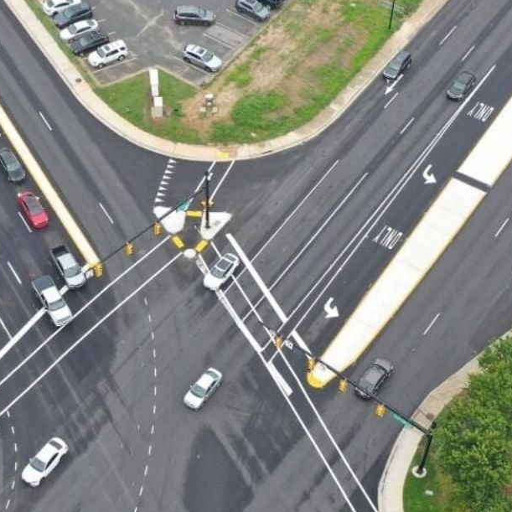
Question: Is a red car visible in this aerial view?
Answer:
Yes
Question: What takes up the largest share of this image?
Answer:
paved ground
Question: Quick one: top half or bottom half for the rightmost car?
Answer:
top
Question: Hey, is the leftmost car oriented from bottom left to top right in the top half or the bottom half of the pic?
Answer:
bottom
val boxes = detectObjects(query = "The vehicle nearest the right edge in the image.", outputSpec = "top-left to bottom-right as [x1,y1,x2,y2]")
[446,70,477,103]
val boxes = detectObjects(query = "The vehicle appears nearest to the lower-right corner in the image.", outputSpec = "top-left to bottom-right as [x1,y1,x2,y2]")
[353,356,393,403]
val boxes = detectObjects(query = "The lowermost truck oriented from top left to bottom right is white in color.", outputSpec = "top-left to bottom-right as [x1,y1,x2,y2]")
[30,272,74,328]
